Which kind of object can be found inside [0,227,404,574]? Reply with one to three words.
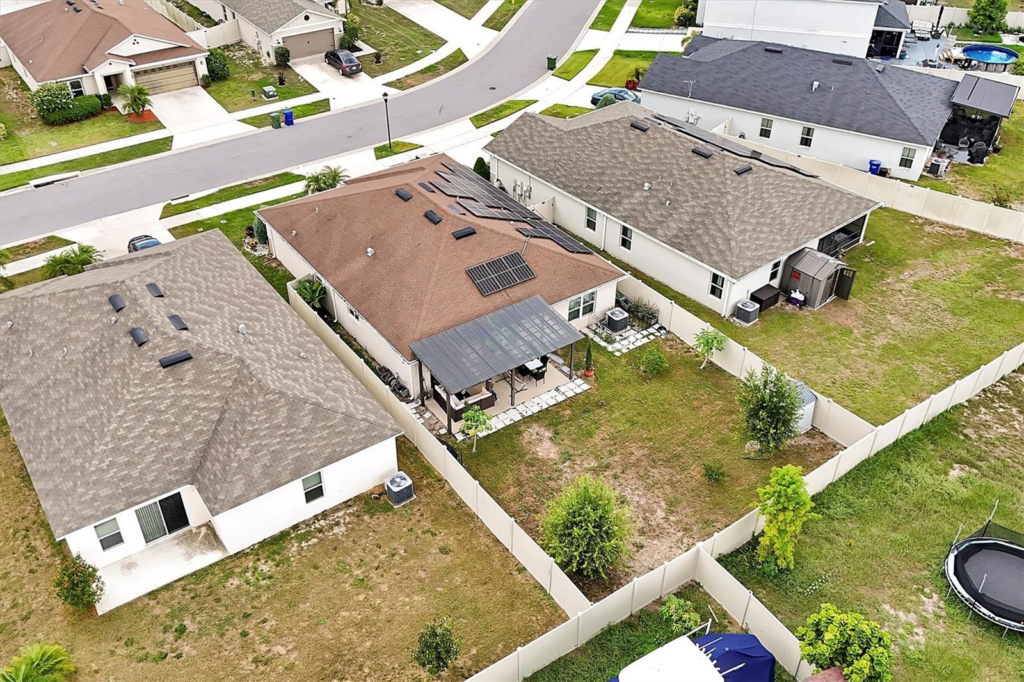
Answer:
house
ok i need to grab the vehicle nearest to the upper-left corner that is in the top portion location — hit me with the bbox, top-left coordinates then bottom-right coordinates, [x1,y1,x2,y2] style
[126,229,160,250]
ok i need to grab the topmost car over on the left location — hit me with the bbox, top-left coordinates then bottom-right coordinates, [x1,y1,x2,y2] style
[327,51,362,75]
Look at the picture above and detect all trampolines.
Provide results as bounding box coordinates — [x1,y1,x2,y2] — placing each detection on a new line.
[940,514,1024,645]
